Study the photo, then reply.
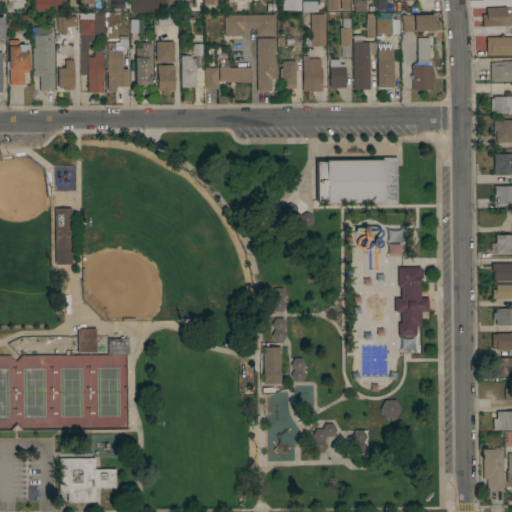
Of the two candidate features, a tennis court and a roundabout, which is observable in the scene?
tennis court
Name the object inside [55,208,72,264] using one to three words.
building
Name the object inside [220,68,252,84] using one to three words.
house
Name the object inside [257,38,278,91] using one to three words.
house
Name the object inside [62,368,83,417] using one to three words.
tennis court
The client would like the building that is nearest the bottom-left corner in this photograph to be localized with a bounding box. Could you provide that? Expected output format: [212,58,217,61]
[60,458,118,503]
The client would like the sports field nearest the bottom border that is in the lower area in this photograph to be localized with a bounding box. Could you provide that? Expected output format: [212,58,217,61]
[138,333,238,506]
